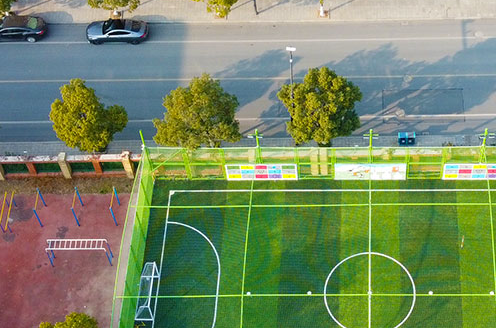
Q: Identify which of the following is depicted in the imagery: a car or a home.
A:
car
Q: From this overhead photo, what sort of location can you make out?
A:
sports ground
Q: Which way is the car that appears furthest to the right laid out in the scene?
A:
from side to side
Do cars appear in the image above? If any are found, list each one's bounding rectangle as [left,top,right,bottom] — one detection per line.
[84,13,150,41]
[0,15,48,42]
